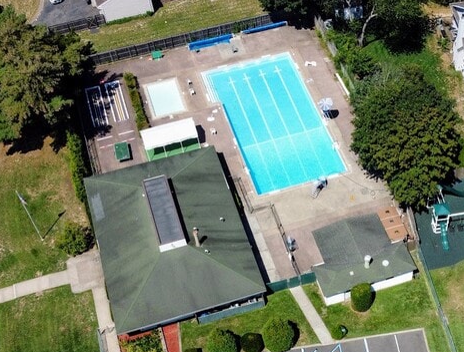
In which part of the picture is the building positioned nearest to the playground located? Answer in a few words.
bottom right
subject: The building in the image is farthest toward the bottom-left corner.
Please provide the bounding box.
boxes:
[85,145,264,336]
